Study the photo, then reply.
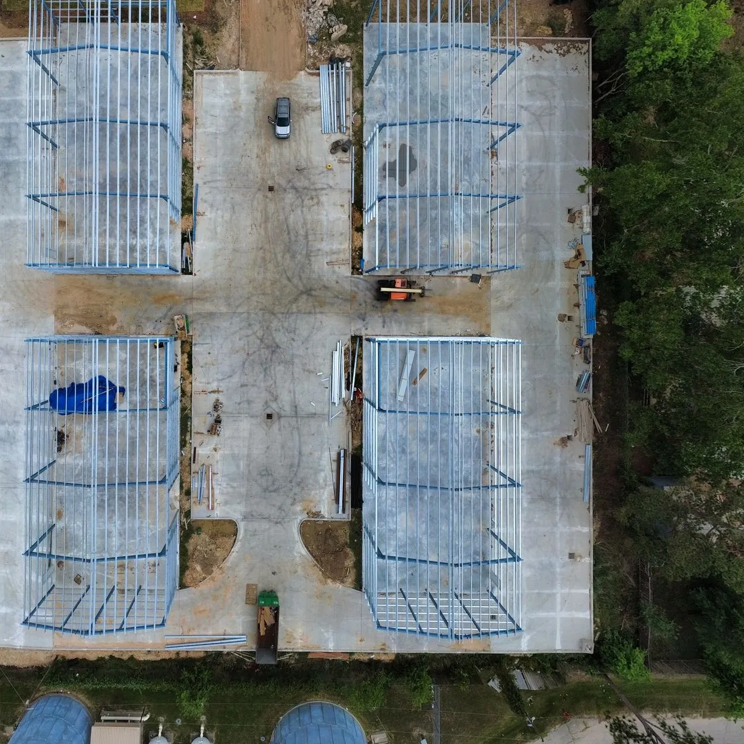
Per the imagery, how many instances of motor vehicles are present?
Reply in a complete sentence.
Looking from above, you can make out 2 motor vehicles.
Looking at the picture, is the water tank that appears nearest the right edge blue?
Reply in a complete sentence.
Yes, blue is the color of the water tank that appears nearest the right edge.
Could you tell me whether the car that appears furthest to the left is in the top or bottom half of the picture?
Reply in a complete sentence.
It is in the top half that the car that appears furthest to the left appears.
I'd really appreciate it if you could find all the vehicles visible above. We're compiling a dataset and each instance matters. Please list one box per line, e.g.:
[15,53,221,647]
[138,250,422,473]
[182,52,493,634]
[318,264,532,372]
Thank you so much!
[378,278,429,302]
[264,98,291,139]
